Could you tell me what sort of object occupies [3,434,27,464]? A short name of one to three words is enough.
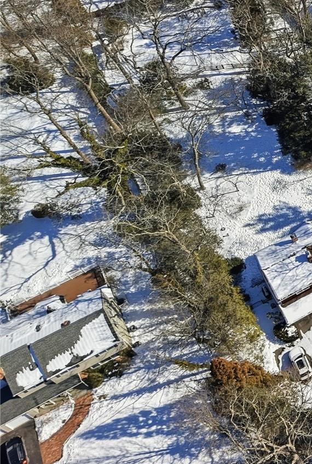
car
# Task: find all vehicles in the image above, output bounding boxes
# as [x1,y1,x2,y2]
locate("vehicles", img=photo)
[289,347,312,381]
[3,434,27,464]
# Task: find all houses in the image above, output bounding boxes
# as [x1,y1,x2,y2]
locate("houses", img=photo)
[0,260,129,440]
[256,225,312,334]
